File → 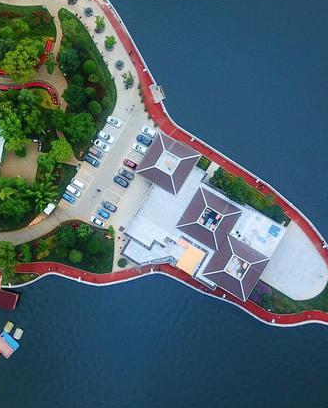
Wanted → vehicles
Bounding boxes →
[140,126,157,138]
[113,175,130,188]
[101,200,118,213]
[97,130,113,143]
[93,139,110,151]
[131,142,148,155]
[83,155,99,167]
[88,146,103,159]
[118,168,135,180]
[122,158,138,170]
[64,184,81,197]
[69,177,84,189]
[89,215,105,228]
[135,133,152,147]
[61,191,77,204]
[104,115,121,128]
[95,207,111,219]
